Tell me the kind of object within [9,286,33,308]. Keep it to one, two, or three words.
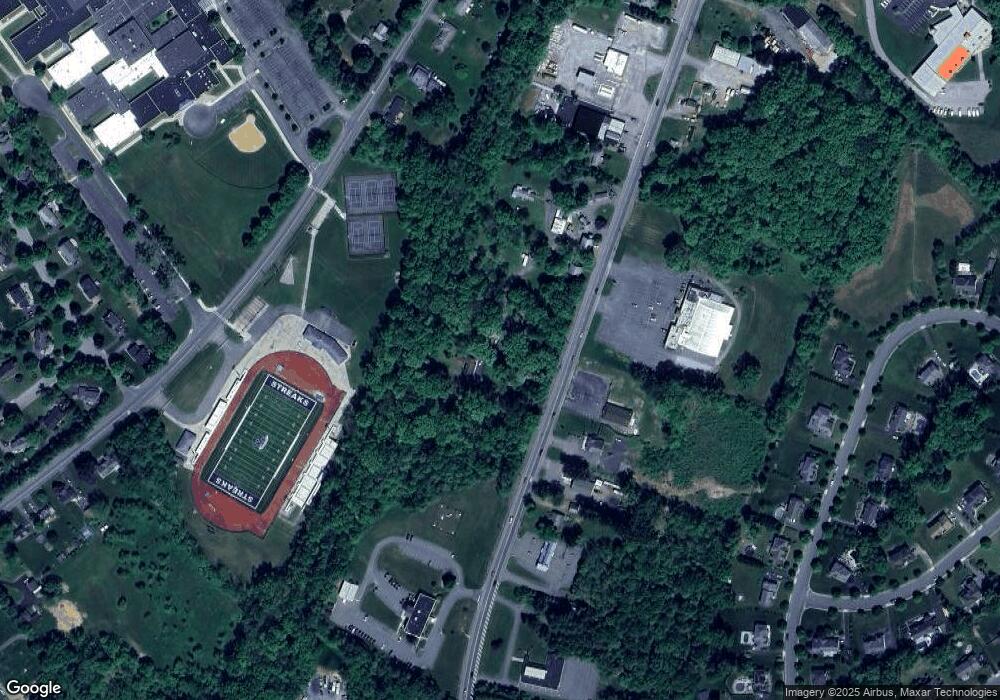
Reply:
house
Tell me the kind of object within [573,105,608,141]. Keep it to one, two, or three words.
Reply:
building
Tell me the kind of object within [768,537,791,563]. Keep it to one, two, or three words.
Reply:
house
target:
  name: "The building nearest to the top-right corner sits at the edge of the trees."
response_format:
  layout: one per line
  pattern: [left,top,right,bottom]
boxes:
[913,4,993,97]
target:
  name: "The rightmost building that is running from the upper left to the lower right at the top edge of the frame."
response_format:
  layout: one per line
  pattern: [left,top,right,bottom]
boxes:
[783,6,833,54]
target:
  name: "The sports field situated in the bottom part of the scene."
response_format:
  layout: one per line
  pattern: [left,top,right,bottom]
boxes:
[201,370,323,513]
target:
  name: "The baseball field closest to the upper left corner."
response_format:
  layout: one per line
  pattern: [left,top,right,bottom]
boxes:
[229,114,266,154]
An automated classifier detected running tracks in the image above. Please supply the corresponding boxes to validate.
[192,350,344,537]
